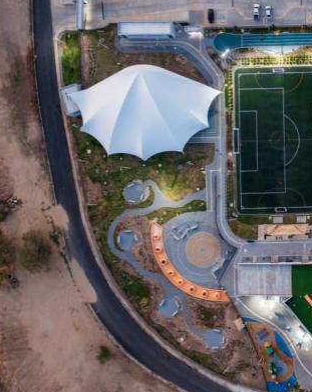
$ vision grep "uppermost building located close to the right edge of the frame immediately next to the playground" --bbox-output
[235,262,312,296]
